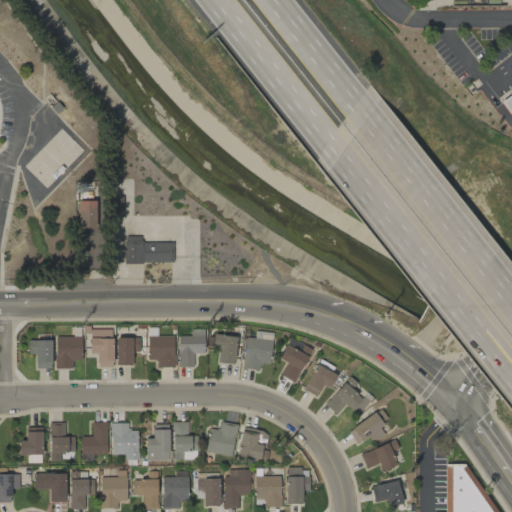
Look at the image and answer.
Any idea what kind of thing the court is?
basketball court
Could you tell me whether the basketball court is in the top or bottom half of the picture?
top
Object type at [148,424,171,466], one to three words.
house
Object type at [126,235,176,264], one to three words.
building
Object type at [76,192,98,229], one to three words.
building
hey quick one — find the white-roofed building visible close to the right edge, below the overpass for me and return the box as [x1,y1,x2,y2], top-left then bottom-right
[448,464,498,512]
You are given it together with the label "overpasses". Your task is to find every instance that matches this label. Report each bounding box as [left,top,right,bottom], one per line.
[324,86,512,408]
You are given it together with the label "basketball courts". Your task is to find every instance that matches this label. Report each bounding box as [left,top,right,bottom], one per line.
[26,129,84,188]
